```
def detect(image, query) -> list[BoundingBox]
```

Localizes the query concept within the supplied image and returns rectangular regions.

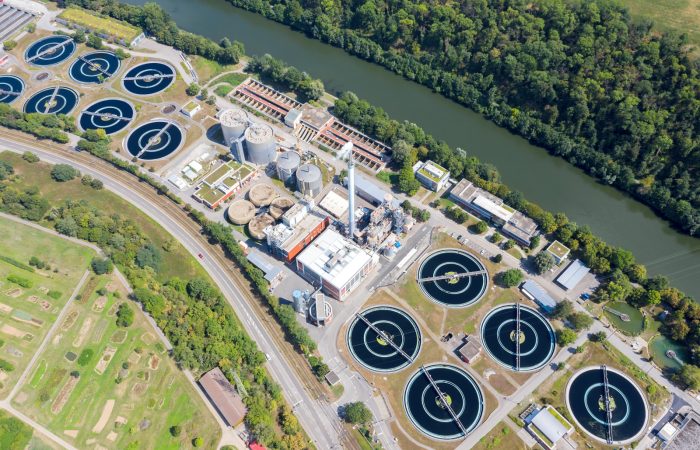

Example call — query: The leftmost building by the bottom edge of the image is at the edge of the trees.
[199,367,247,428]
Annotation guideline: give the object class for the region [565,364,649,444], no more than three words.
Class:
storage tank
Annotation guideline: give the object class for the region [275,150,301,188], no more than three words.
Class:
silo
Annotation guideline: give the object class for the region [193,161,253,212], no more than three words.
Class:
building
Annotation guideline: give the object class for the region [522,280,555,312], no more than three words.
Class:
shed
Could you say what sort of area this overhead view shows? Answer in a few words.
industrial area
